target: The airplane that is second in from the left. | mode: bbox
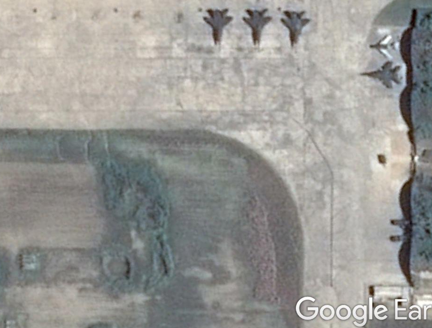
[244,8,271,46]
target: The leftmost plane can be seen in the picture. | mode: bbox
[204,8,232,48]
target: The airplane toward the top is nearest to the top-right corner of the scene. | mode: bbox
[371,35,398,58]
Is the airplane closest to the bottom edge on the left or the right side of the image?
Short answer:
right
